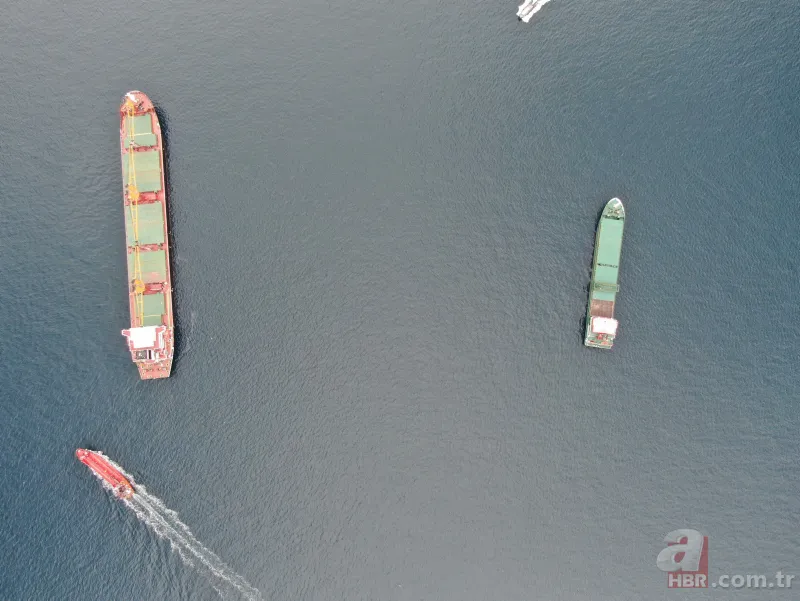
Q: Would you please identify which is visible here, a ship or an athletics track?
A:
ship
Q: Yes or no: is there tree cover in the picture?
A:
No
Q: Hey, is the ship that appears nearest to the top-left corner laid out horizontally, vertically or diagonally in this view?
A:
vertically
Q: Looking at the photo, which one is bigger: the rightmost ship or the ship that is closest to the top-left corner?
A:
the ship that is closest to the top-left corner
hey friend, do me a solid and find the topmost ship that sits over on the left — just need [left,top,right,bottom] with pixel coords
[120,91,179,379]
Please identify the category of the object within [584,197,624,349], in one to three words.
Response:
ship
